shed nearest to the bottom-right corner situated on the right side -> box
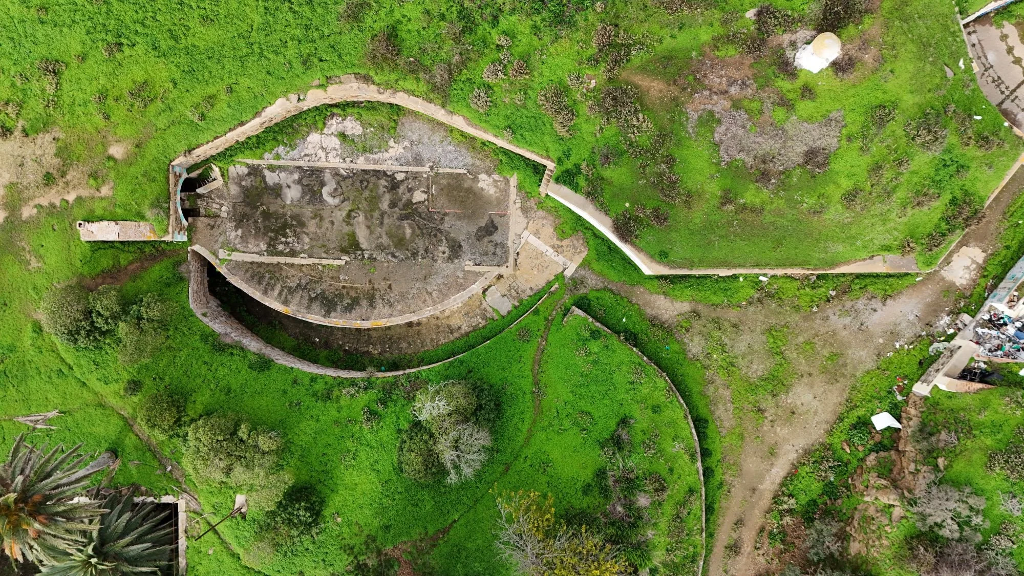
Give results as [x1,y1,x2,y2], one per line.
[895,337,979,395]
